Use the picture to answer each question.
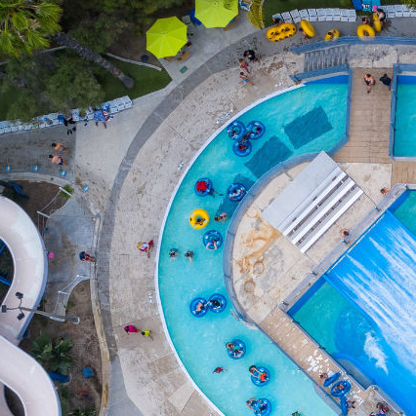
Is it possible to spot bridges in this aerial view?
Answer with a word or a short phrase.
Yes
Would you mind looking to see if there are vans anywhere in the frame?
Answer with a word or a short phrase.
No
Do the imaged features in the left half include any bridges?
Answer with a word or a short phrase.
No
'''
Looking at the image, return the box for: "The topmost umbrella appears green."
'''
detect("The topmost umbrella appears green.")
[198,0,242,30]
